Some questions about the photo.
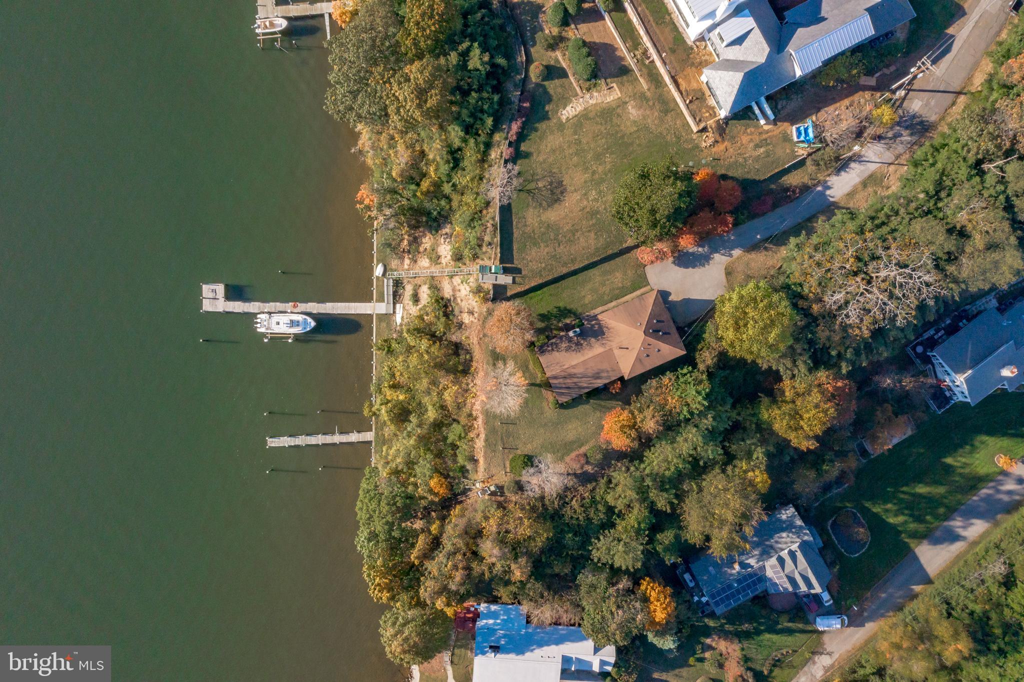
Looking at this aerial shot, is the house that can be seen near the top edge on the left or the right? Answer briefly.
right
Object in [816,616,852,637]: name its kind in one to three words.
vehicle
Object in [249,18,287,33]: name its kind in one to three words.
boat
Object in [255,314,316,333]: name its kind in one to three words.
boat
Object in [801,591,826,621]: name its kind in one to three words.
car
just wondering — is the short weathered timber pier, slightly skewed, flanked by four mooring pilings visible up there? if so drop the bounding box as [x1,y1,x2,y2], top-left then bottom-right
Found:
[267,426,373,447]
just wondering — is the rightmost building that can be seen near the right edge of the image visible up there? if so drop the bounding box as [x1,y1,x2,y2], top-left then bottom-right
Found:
[900,289,1024,414]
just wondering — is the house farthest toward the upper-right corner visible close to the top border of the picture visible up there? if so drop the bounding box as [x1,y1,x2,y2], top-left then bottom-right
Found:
[680,0,917,119]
